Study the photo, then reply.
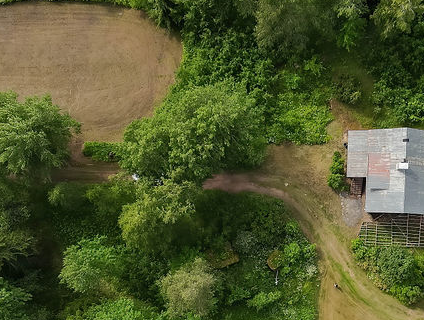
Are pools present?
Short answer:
No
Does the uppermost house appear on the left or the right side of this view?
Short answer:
right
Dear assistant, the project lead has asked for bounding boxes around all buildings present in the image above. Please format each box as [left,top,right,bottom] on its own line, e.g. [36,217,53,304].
[208,246,240,268]
[346,127,424,215]
[267,251,281,270]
